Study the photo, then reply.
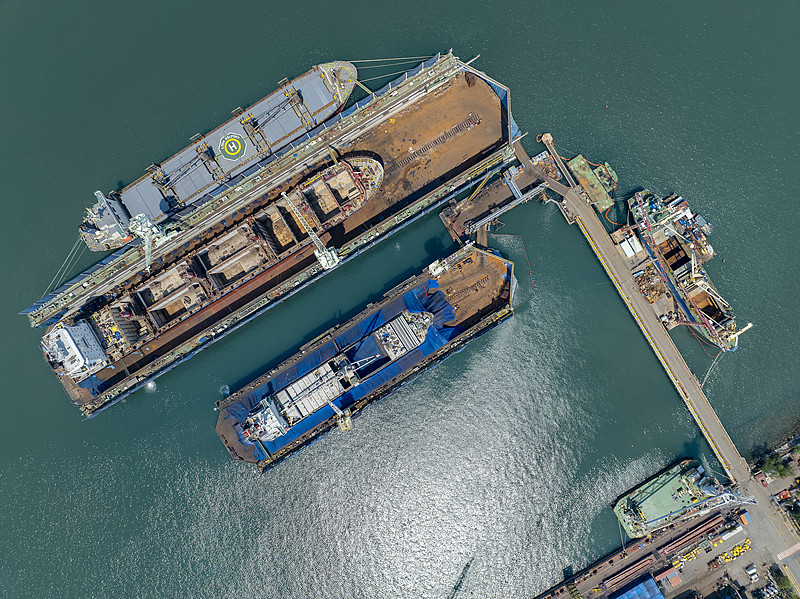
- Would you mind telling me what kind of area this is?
port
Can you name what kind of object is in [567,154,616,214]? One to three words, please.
ship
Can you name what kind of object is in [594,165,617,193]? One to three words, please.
ship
